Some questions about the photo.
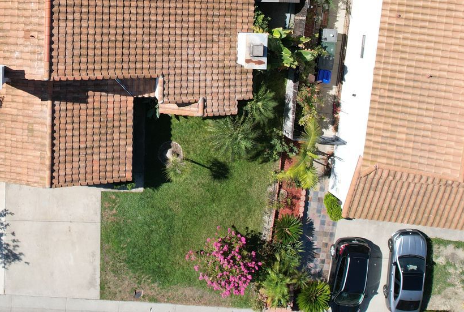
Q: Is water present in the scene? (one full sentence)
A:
No, water can't be seen anywhere here.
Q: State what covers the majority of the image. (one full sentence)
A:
Most of the picture is covered by buildings.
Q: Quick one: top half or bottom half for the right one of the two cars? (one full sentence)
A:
You can find the right one of the two cars in the bottom half.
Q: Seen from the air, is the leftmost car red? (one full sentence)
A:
No, the leftmost car is actually black.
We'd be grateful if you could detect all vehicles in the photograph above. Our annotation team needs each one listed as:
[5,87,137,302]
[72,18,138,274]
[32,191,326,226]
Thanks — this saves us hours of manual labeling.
[389,233,437,312]
[327,242,375,312]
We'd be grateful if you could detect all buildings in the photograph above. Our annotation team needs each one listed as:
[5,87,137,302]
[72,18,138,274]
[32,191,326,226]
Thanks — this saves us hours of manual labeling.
[328,0,464,233]
[0,0,269,190]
